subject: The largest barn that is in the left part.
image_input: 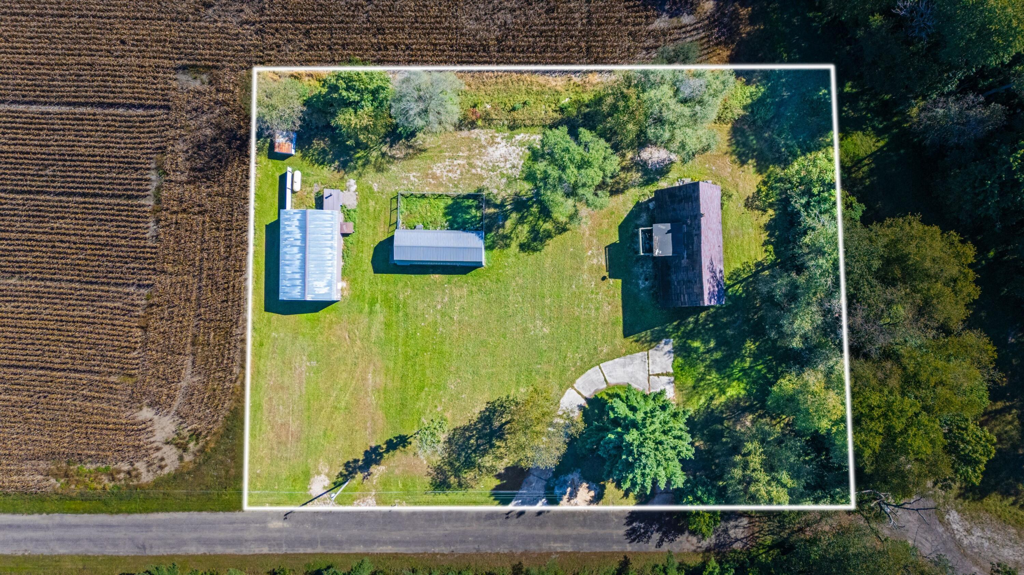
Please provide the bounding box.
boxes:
[279,208,341,300]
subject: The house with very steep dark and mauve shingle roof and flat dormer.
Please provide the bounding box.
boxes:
[633,181,727,306]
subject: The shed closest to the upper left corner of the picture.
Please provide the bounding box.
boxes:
[274,129,296,155]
